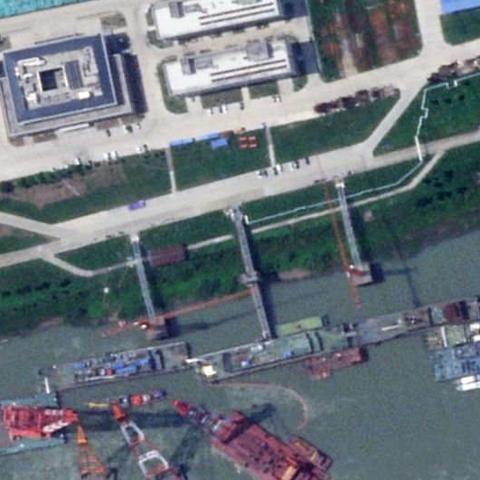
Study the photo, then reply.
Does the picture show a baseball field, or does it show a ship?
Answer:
ship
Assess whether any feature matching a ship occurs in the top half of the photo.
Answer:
No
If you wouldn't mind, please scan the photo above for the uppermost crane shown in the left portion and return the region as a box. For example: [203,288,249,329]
[99,290,251,338]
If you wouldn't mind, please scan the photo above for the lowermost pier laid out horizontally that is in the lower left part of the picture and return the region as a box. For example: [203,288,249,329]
[38,342,189,394]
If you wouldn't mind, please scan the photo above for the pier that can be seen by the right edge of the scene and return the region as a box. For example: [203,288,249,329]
[355,296,480,346]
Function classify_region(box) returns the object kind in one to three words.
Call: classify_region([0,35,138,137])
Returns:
building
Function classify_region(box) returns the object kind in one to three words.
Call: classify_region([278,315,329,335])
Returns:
ship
